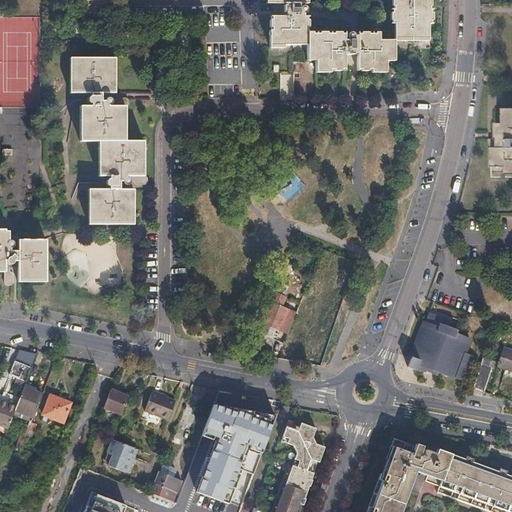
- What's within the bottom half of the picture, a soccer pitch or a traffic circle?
traffic circle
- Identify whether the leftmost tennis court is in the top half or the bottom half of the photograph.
top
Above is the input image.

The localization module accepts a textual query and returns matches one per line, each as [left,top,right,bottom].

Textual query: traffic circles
[335,361,395,421]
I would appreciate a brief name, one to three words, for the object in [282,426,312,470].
house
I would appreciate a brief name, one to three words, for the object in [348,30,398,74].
building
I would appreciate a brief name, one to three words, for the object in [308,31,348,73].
building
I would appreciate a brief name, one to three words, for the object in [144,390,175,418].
house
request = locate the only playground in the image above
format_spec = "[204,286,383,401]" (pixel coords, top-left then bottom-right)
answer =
[62,234,125,293]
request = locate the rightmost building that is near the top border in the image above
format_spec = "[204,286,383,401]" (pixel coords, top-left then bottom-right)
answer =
[392,0,435,48]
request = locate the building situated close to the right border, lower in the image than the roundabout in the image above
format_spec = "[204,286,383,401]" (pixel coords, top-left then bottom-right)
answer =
[368,439,512,512]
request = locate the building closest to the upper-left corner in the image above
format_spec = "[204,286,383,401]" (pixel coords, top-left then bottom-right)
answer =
[71,57,118,94]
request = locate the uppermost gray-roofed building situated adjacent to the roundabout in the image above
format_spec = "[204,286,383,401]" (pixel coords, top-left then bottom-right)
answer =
[408,312,472,378]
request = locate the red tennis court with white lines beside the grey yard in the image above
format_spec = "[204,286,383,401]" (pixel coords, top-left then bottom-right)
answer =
[0,17,40,107]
